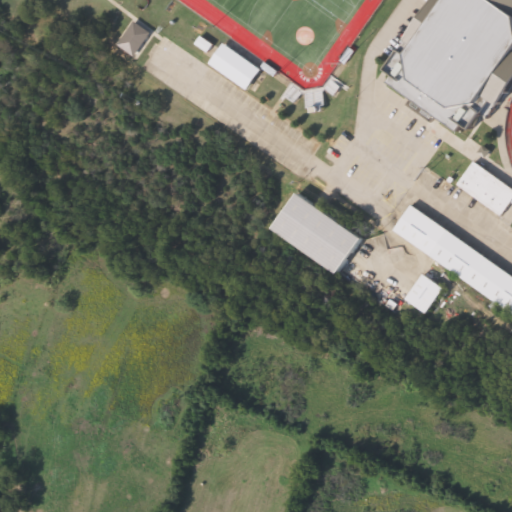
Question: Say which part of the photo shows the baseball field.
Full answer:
The baseball field sits in the top section of the image.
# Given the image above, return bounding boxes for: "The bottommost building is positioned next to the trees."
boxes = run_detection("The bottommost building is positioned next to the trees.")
[405,274,442,314]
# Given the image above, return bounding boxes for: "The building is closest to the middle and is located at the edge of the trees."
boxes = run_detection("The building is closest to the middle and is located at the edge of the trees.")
[270,193,360,274]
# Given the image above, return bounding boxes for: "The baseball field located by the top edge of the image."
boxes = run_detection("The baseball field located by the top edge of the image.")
[180,0,384,89]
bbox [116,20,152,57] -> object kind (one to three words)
building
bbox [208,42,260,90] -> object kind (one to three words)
building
